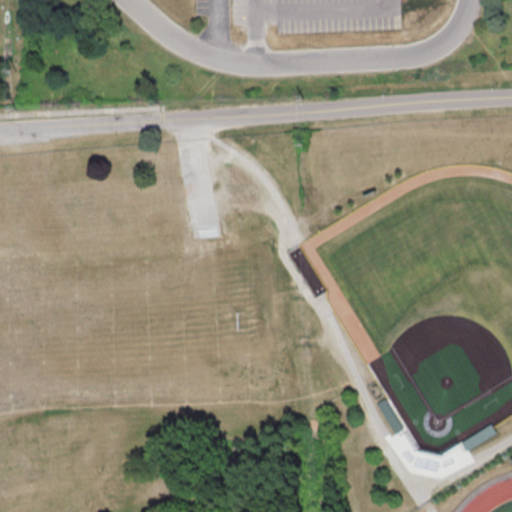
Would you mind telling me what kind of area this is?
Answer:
sports ground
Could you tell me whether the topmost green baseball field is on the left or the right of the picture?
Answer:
right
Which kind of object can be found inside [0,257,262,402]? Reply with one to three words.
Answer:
sports field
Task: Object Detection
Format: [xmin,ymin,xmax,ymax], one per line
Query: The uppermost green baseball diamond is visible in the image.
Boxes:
[302,165,512,453]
